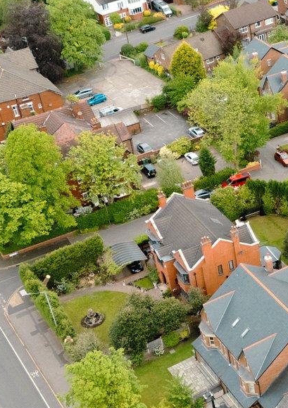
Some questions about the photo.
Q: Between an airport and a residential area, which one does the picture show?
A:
residential area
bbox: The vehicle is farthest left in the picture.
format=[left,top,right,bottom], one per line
[71,86,96,100]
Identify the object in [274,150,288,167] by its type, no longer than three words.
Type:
car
